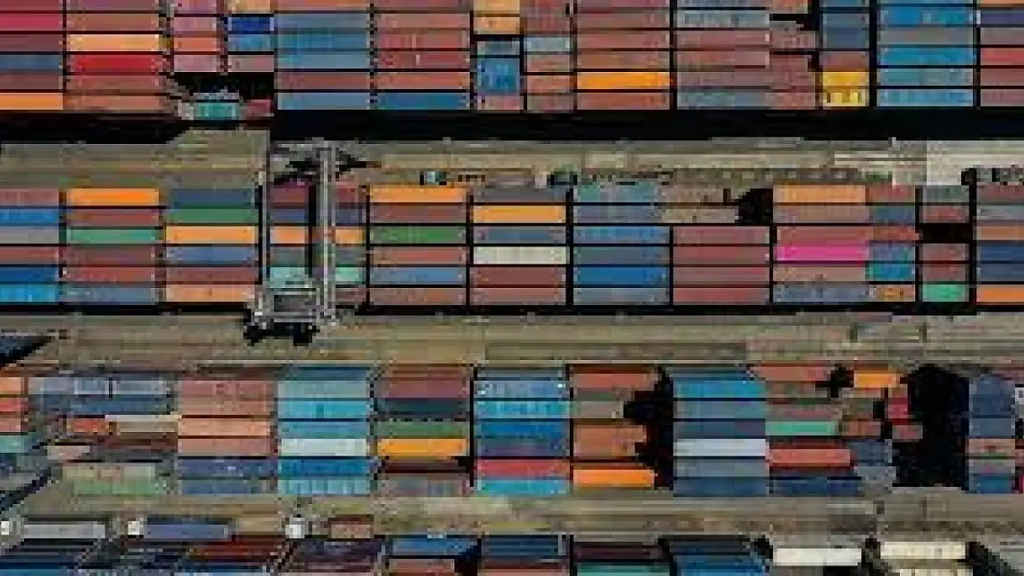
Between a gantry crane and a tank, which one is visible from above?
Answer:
gantry crane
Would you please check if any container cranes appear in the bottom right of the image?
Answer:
No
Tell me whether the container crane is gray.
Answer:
Yes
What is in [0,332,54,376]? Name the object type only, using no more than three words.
shipping container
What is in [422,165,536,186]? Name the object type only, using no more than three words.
truck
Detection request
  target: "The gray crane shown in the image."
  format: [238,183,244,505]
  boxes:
[249,137,373,331]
